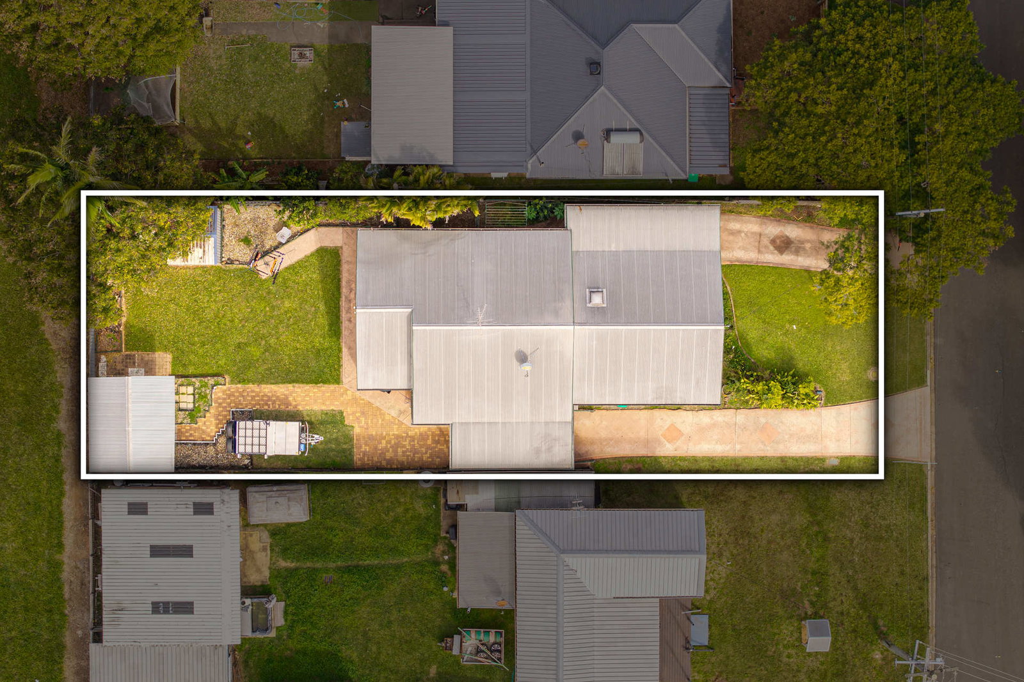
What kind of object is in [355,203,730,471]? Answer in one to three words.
house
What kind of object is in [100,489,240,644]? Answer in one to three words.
shed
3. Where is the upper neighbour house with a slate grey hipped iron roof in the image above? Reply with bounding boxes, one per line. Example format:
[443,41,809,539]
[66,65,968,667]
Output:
[370,0,735,179]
